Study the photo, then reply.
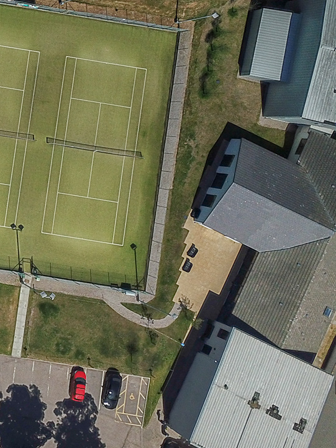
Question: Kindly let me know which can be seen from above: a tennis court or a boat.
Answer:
tennis court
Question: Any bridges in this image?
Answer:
No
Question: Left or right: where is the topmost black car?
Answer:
left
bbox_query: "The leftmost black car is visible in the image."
[100,368,121,407]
